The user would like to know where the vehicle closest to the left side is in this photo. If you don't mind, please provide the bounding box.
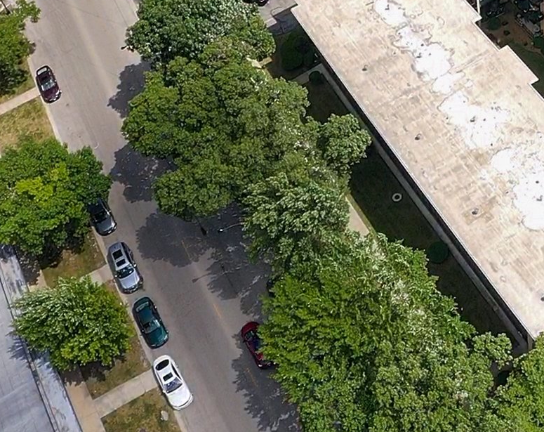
[32,64,64,106]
